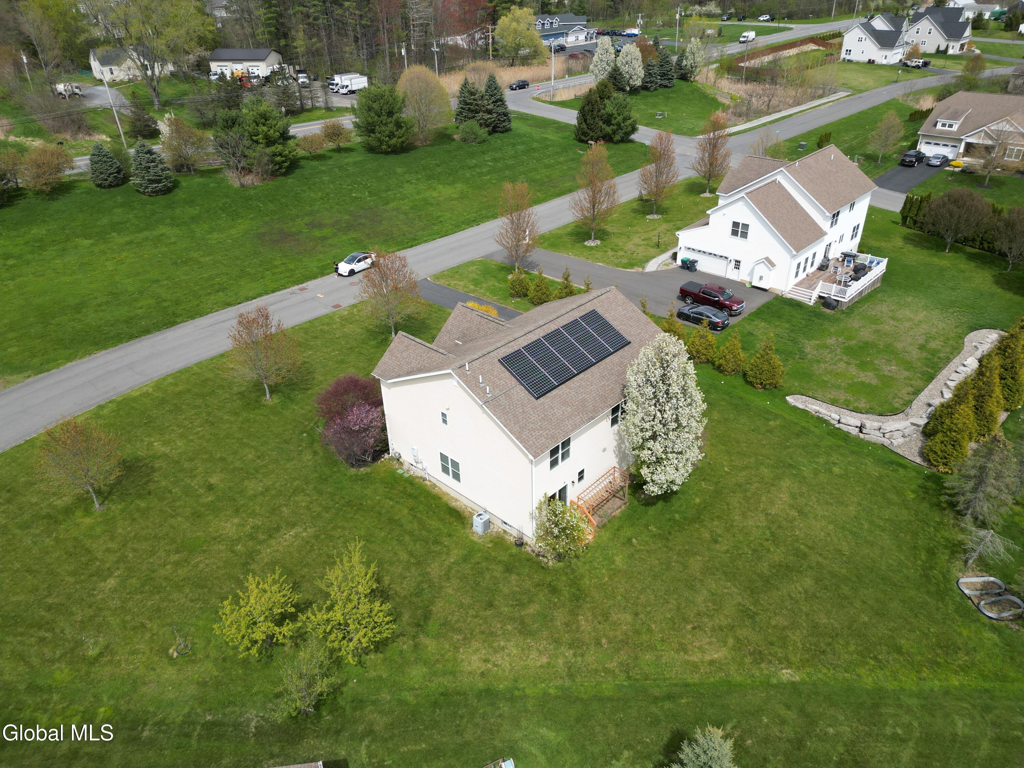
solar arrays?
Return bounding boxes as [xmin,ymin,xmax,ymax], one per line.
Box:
[497,308,632,403]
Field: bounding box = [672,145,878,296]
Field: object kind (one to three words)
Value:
house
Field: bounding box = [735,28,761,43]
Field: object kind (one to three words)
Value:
vehicle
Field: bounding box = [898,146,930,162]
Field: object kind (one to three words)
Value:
car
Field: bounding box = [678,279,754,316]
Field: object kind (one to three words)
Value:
truck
